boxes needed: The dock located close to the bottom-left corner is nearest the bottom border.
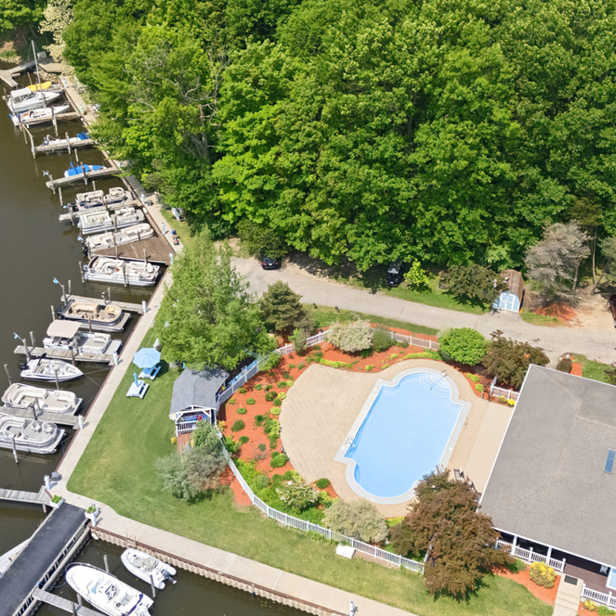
[32,583,121,616]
